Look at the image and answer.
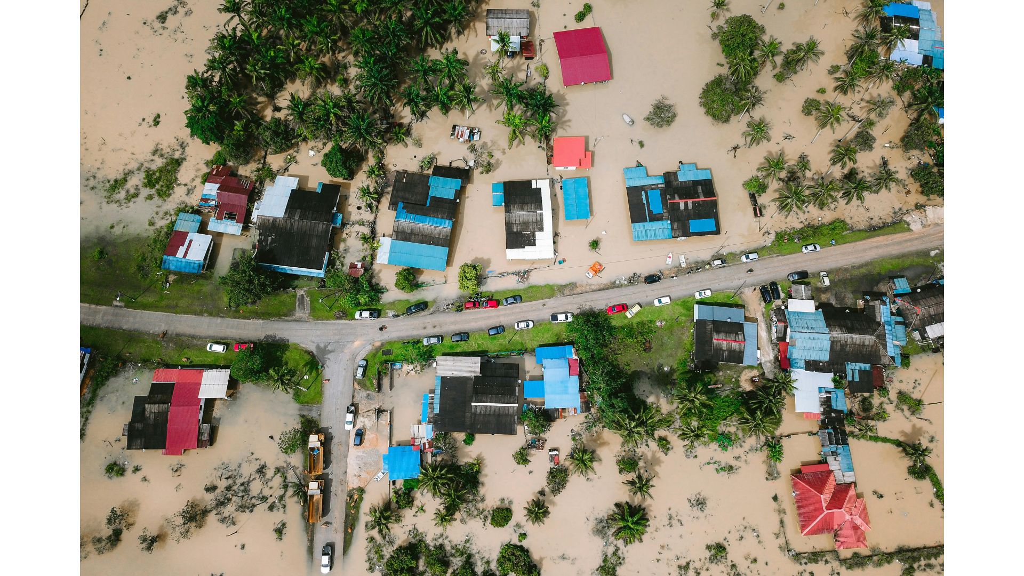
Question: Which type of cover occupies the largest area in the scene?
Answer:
water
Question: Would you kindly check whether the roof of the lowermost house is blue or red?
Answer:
red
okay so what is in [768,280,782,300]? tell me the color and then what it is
black car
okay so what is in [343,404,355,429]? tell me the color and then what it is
white vehicle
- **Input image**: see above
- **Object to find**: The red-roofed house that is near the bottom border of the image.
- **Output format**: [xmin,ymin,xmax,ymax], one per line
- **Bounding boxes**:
[786,463,871,550]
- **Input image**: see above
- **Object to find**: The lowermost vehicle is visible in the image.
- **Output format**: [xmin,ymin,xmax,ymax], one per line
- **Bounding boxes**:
[320,543,333,572]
